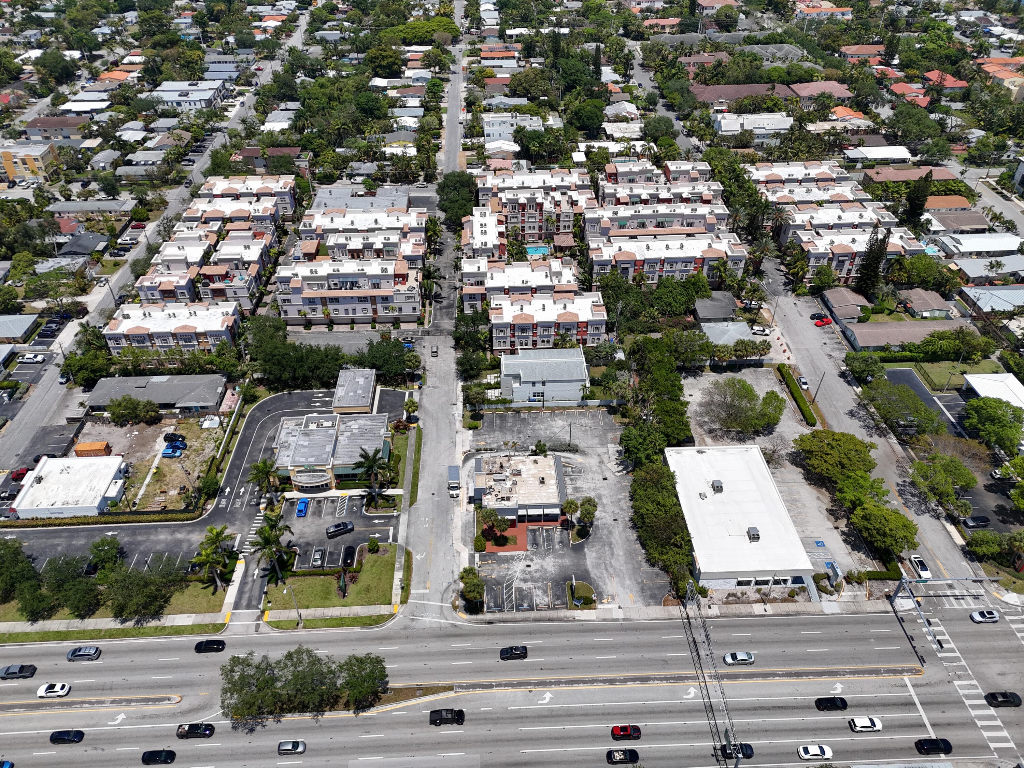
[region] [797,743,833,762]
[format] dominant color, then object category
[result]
white car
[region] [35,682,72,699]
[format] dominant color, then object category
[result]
white car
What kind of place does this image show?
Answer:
residential area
